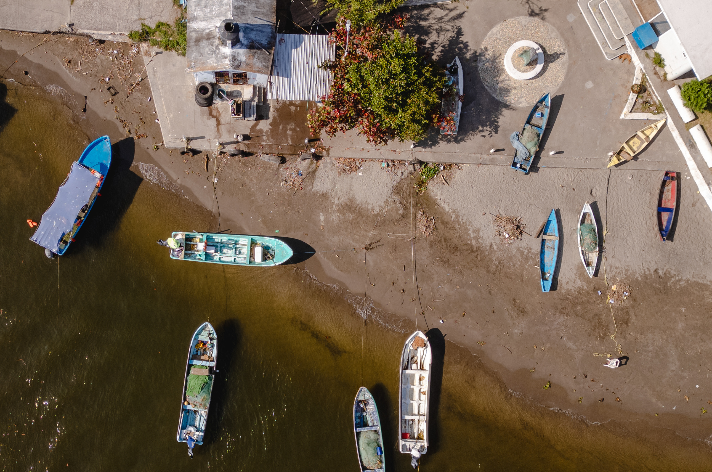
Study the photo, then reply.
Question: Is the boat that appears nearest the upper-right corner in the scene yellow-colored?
Yes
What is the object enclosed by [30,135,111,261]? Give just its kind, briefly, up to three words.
boat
